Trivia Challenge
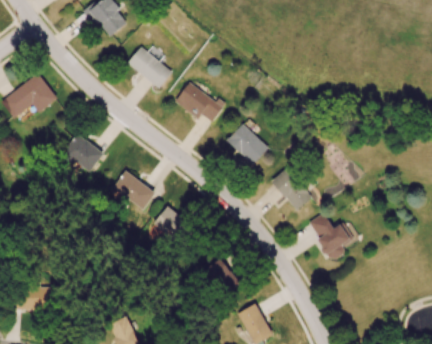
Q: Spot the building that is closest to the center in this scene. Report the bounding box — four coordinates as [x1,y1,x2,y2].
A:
[228,124,268,164]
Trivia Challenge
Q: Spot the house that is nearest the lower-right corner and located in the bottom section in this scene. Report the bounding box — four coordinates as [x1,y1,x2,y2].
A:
[308,215,352,258]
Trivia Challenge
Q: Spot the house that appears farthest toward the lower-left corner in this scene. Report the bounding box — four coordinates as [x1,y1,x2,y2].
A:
[18,286,50,316]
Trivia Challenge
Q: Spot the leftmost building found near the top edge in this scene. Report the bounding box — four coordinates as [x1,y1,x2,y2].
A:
[86,0,126,34]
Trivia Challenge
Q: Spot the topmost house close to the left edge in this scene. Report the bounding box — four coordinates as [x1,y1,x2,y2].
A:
[2,76,56,117]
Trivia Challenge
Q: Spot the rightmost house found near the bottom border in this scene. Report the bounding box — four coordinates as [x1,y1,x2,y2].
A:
[238,304,273,344]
